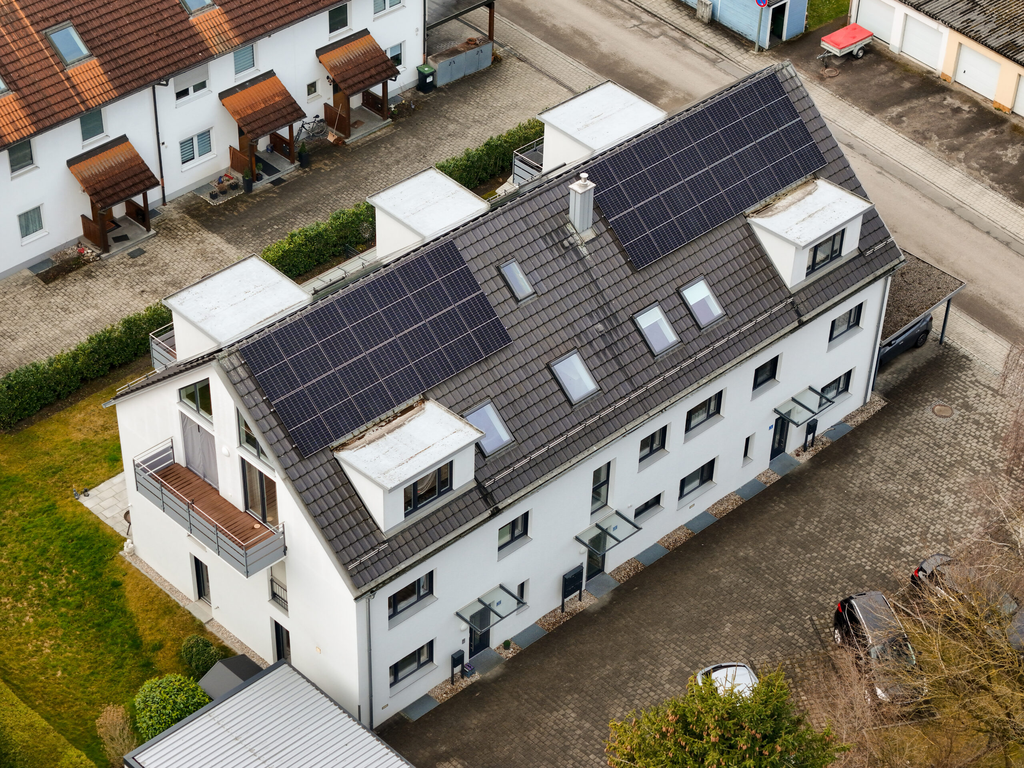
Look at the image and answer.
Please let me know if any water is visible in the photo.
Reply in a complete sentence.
No, no water is visible.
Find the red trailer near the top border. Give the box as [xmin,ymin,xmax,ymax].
[813,23,874,68]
